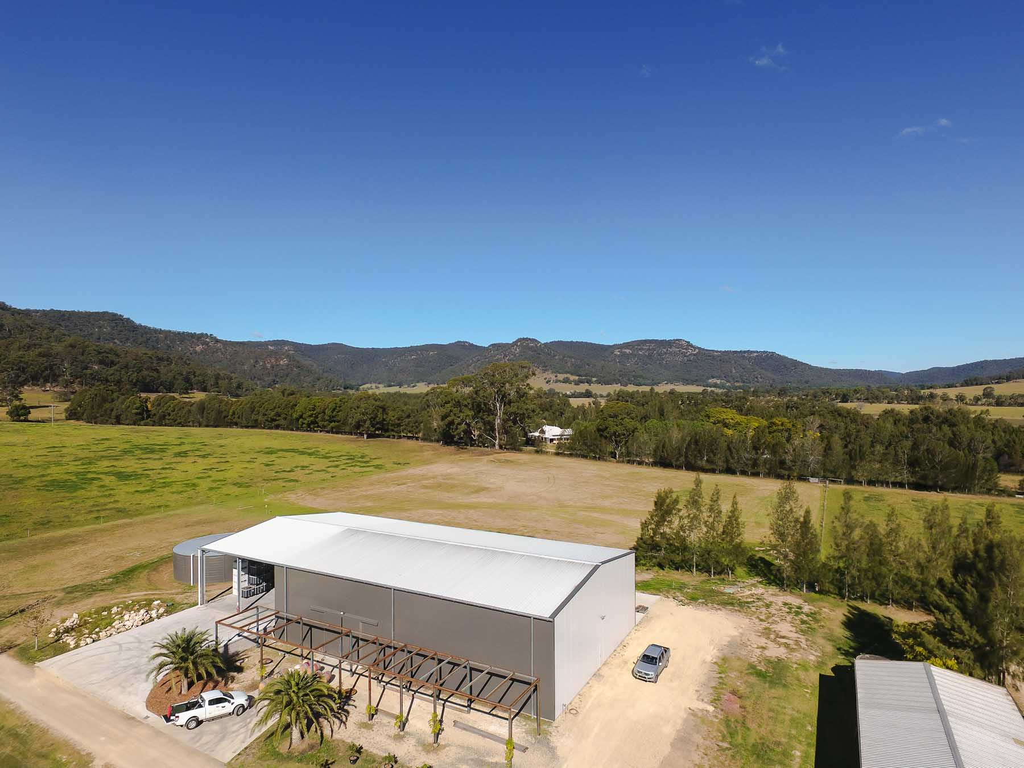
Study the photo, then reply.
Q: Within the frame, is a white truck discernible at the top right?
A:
No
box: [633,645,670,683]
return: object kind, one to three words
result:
truck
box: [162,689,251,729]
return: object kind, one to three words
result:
truck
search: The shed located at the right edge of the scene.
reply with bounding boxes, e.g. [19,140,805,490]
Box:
[852,658,1024,768]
